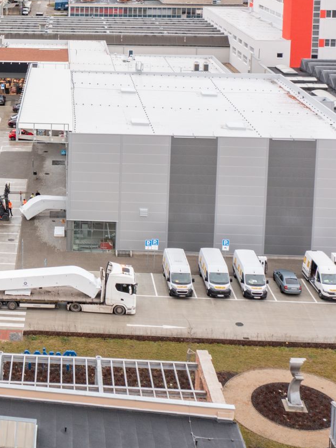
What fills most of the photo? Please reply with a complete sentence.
What you mostly see from above here is buildings.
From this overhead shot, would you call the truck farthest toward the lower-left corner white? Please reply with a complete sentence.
Yes, the truck farthest toward the lower-left corner appears white.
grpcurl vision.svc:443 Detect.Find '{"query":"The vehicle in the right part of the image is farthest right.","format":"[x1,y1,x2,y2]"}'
[311,258,336,297]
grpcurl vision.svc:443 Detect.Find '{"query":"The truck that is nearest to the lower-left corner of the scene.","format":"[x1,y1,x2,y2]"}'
[0,266,139,314]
